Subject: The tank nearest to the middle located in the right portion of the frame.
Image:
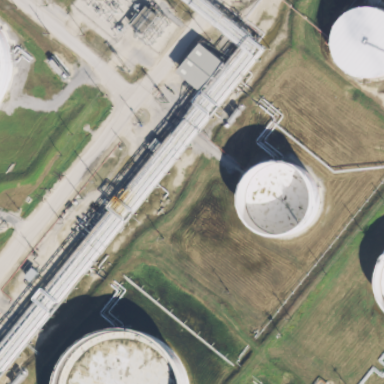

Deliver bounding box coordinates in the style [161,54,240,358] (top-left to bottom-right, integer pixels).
[234,158,324,240]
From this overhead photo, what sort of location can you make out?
industrial area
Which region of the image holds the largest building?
top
